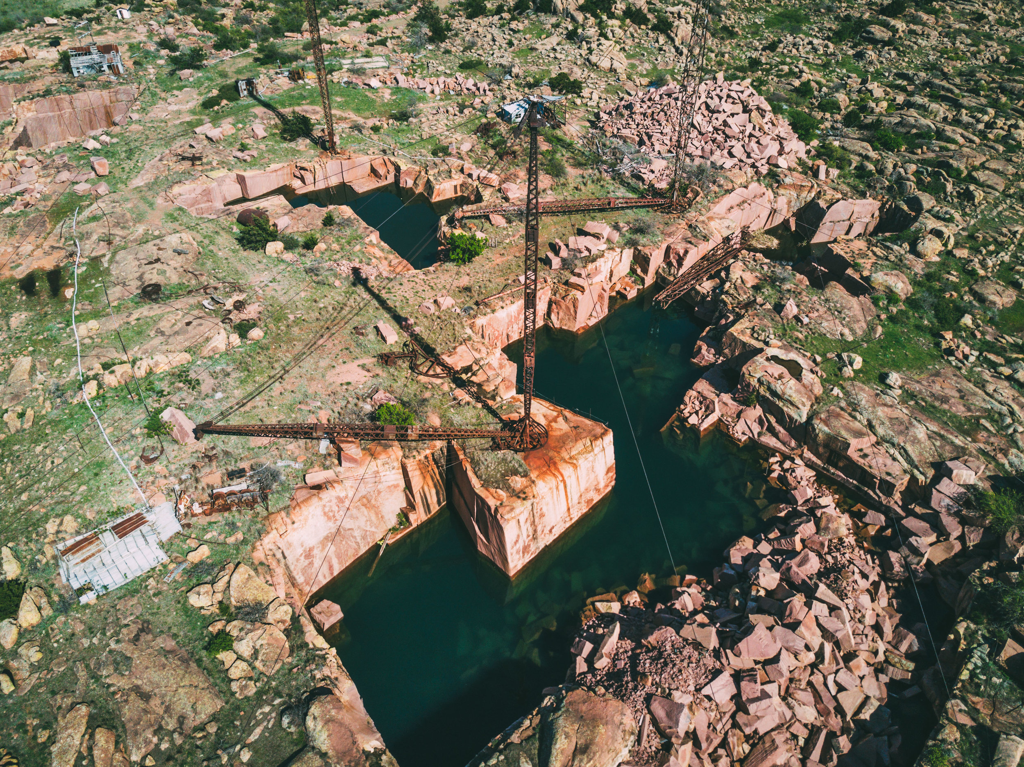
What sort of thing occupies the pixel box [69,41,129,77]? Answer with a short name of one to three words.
shed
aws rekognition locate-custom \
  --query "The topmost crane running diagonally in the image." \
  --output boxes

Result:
[454,0,712,231]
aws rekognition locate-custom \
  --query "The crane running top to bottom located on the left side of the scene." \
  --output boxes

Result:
[303,0,343,154]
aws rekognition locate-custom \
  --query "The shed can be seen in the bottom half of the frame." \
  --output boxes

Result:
[55,505,167,602]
